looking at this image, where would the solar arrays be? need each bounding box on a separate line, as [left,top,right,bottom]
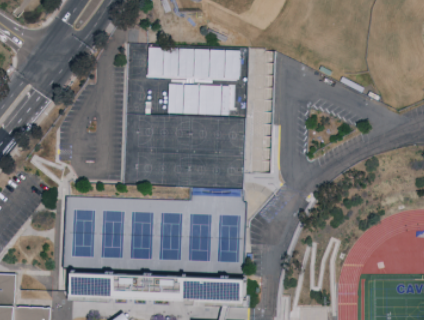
[72,278,110,296]
[184,282,238,300]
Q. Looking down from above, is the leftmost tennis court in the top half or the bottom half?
bottom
